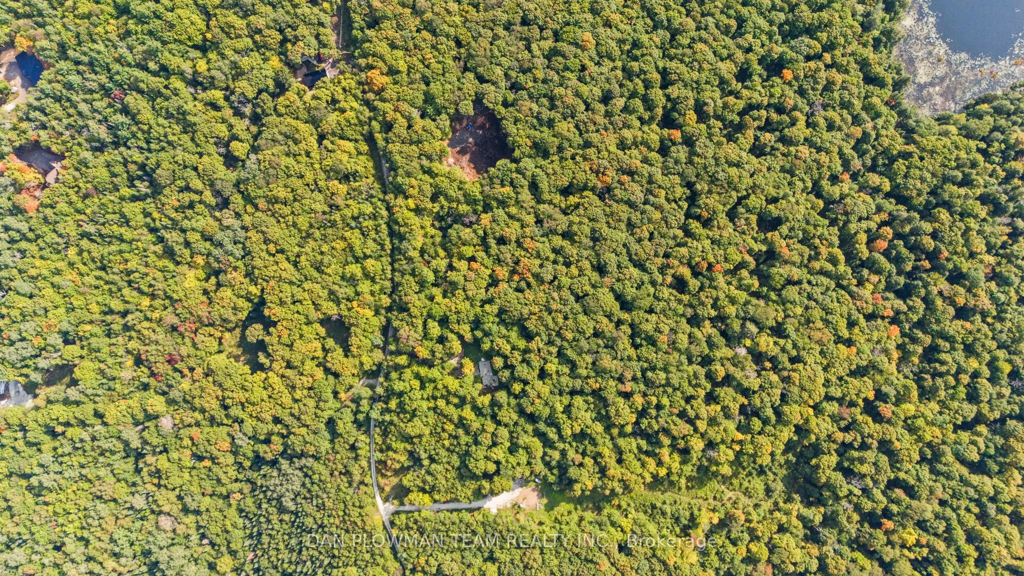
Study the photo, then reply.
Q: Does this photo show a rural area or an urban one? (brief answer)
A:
rural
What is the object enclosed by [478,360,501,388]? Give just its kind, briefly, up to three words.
house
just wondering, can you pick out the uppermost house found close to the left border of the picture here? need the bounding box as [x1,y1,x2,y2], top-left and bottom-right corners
[8,49,44,85]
